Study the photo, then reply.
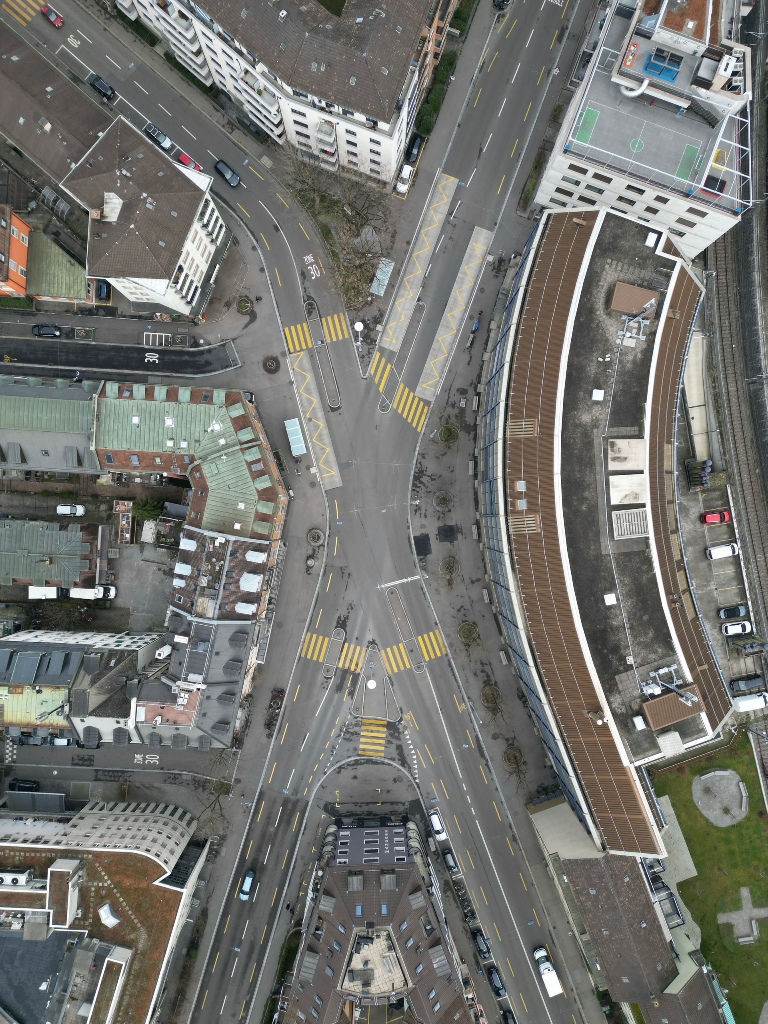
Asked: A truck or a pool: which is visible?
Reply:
truck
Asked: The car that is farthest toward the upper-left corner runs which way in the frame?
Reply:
diagonally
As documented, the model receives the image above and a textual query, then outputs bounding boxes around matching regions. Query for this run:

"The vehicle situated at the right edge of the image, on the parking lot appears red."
[699,509,731,525]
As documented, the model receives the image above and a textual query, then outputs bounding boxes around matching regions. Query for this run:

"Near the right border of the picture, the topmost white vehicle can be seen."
[703,541,739,559]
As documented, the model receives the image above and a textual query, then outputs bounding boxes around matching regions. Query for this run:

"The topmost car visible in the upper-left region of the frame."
[39,4,67,33]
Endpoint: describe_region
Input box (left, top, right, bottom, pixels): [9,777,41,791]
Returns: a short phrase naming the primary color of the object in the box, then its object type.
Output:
black car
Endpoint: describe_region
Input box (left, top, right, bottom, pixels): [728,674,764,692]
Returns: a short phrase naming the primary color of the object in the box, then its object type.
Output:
gray car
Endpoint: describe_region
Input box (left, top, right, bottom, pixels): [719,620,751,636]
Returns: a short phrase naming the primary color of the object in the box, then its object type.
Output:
white car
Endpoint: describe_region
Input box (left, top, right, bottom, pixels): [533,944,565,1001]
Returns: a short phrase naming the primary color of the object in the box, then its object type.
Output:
white truck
